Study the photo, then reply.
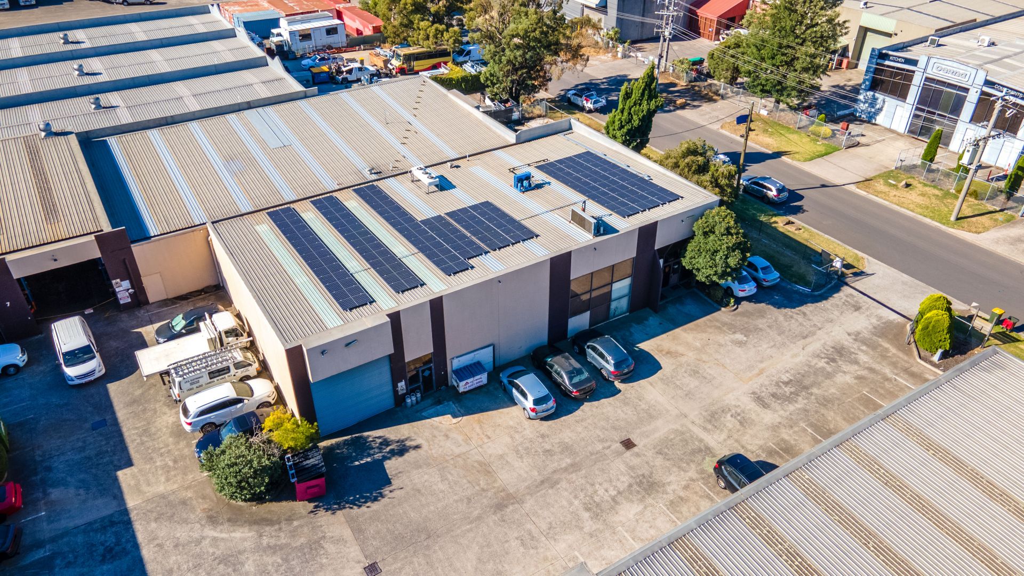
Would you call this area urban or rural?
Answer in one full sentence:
From above, the setting appears urban.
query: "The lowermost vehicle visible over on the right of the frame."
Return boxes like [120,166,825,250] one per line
[710,452,770,500]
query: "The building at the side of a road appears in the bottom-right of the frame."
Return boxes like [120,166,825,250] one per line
[614,341,1024,576]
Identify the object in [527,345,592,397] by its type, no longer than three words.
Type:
car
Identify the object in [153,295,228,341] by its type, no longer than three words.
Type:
car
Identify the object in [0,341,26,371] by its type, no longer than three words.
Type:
truck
